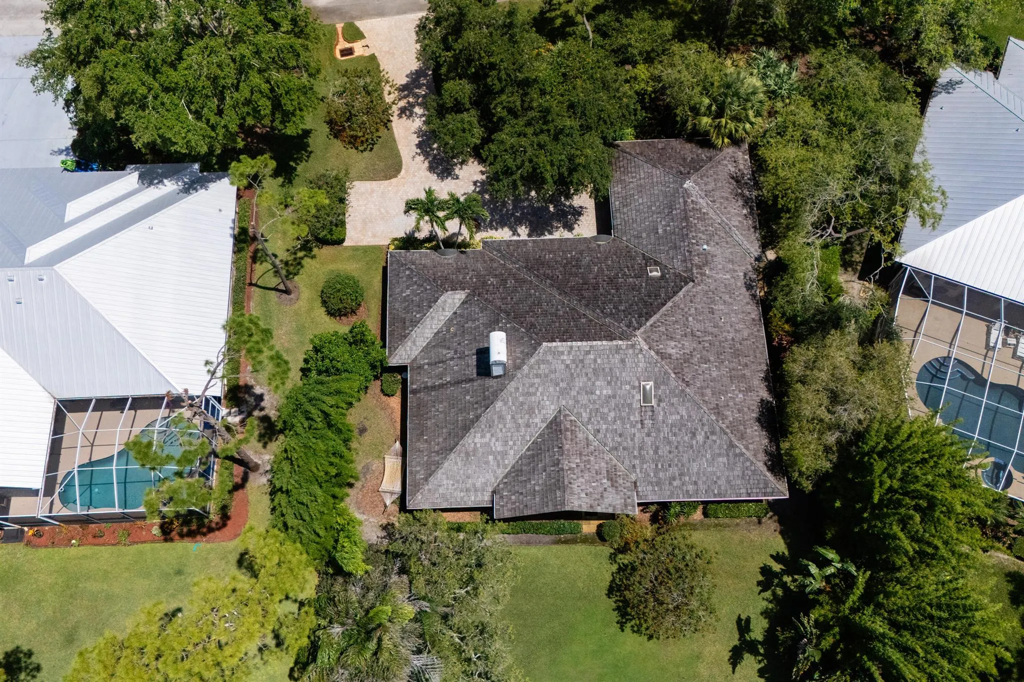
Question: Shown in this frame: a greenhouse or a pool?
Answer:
pool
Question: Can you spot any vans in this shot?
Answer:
No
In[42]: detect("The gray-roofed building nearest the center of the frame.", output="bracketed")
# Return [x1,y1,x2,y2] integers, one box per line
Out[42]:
[383,137,789,522]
